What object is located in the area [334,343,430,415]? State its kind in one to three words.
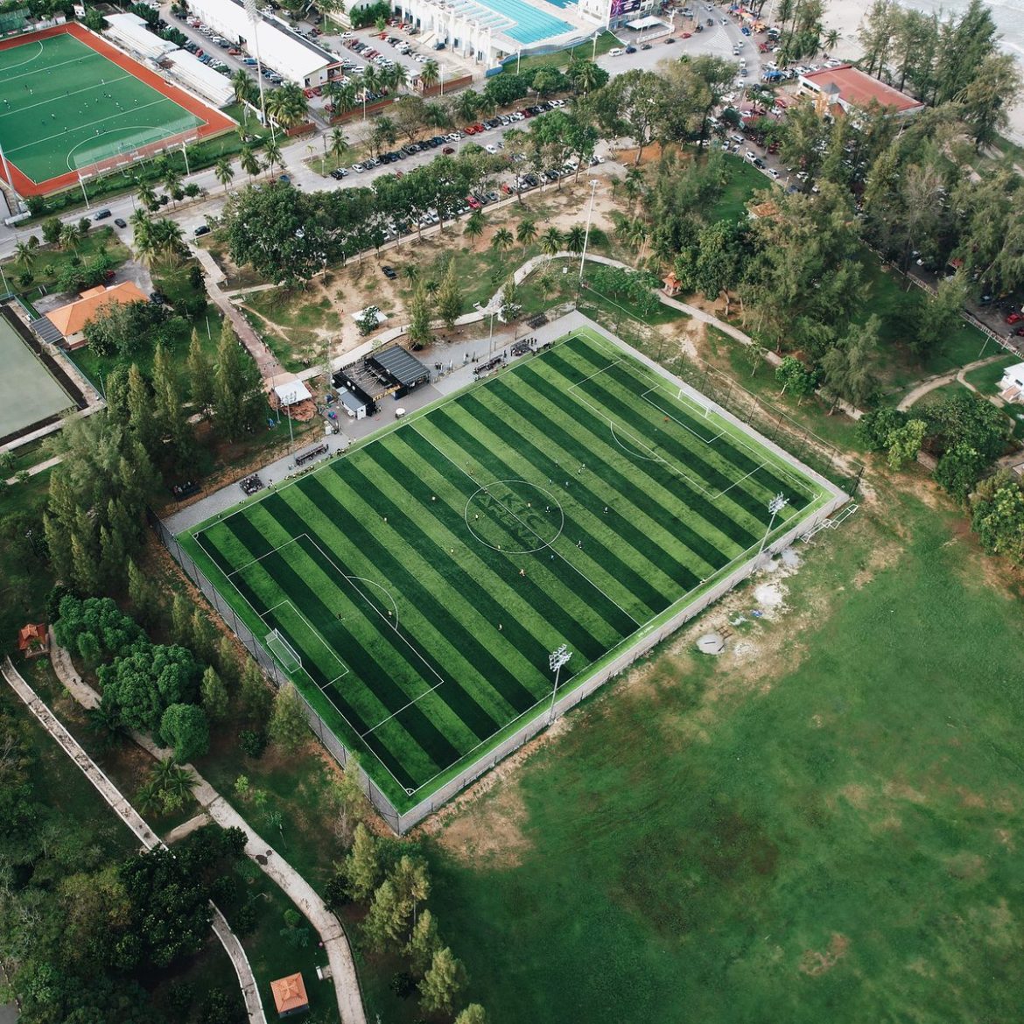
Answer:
building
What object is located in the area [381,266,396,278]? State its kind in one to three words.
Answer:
vehicle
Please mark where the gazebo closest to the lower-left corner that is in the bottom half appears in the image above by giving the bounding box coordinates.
[270,974,310,1024]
